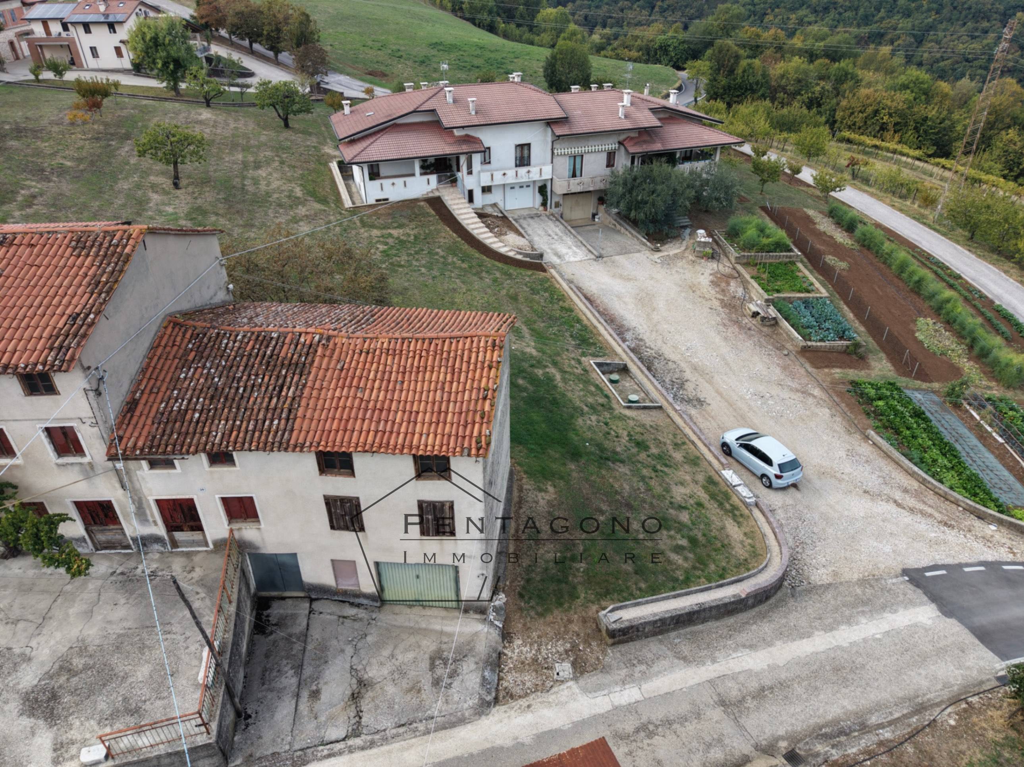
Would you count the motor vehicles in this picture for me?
1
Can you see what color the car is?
white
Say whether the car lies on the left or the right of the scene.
right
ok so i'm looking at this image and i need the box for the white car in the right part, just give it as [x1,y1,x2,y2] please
[722,425,806,491]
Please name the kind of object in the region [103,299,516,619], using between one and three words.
house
